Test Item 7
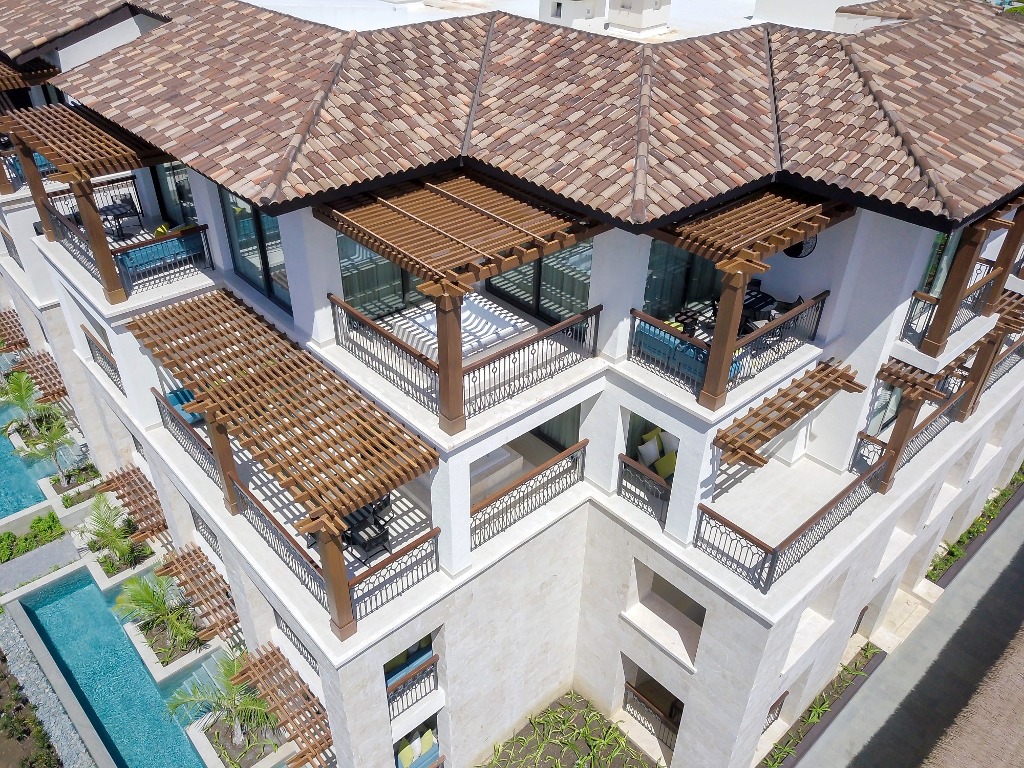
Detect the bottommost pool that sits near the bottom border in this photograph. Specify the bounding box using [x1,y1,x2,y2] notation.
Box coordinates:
[37,568,237,768]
